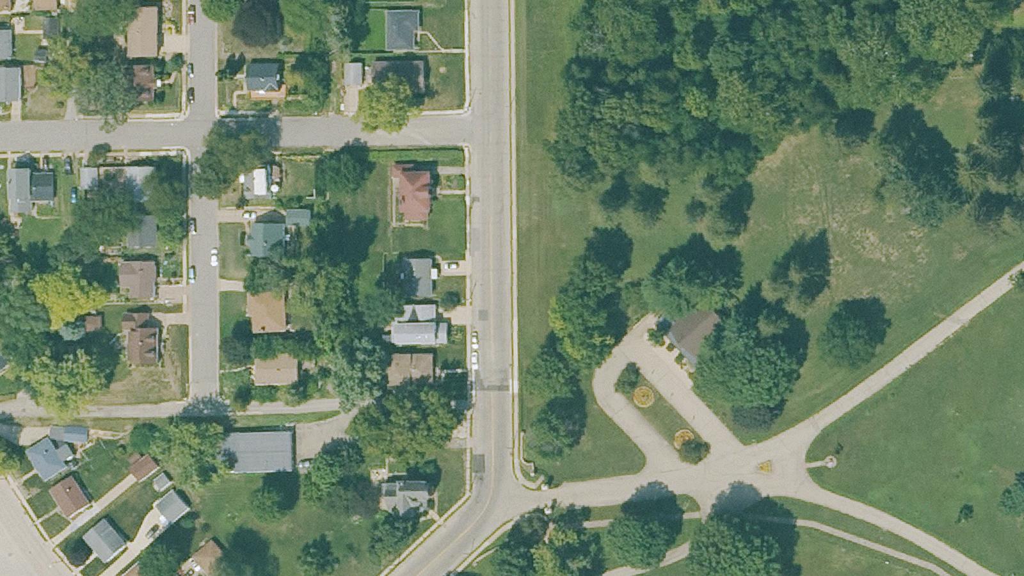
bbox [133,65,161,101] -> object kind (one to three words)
house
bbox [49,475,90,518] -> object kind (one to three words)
house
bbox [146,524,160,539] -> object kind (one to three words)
car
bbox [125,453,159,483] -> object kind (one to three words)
building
